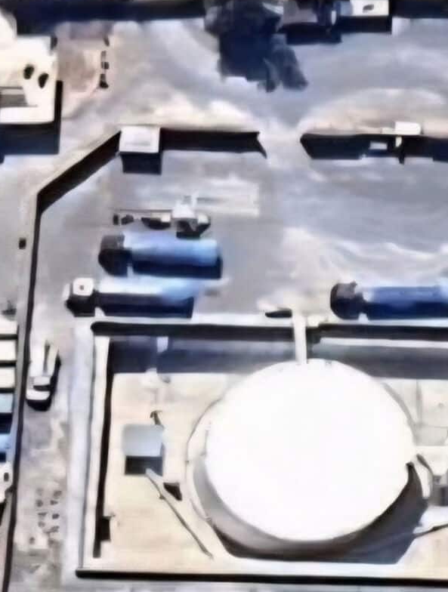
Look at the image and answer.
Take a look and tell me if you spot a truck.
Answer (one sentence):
Yes, a truck can be made out from above.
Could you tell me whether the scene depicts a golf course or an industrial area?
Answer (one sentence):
The picture captures an industrial area.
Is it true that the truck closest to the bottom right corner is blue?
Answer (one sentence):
Yes, the truck closest to the bottom right corner appears blue.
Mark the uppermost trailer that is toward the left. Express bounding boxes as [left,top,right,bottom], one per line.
[114,198,208,234]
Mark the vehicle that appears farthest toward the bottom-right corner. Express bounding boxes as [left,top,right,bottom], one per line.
[331,283,448,315]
